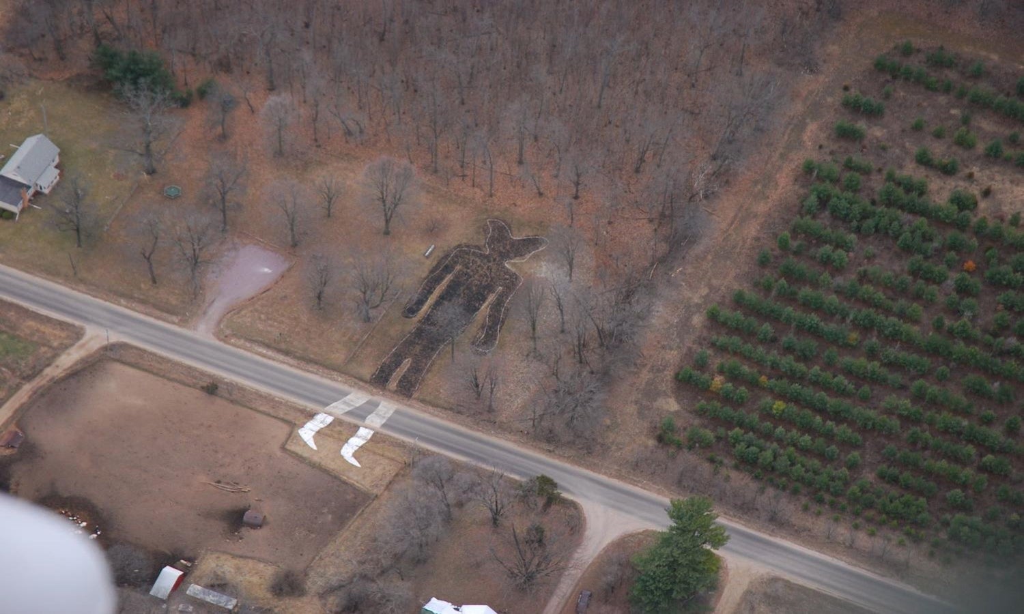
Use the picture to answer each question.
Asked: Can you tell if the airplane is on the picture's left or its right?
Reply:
left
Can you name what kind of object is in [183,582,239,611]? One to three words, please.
shed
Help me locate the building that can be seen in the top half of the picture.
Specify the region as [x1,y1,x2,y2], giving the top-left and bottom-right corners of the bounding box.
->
[0,137,63,223]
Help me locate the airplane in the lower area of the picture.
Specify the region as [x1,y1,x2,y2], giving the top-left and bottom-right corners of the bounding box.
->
[0,489,121,614]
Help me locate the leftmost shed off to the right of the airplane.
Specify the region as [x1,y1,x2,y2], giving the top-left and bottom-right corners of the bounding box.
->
[150,568,184,600]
